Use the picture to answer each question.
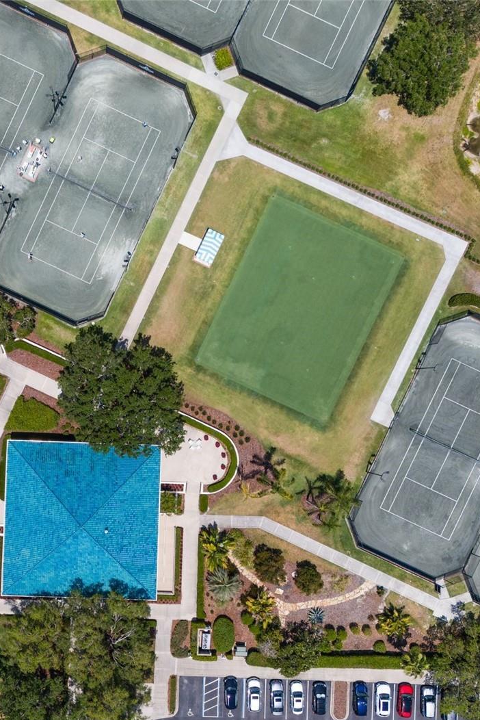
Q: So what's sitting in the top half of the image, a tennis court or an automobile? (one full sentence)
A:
It is a tennis court that can be seen in the top half of the image.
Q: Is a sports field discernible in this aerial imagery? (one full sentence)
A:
Yes, the frame does contain a sports field.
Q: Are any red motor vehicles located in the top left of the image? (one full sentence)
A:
No, I see no red motor vehicle in the top left of the image.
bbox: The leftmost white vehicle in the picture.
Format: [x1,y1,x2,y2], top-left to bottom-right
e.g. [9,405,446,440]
[246,677,263,714]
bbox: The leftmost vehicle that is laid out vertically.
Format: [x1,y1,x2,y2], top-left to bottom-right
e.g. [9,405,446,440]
[222,675,239,711]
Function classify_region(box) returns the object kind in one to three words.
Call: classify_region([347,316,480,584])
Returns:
tennis court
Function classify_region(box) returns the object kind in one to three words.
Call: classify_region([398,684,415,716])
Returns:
car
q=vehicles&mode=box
[222,675,239,711]
[375,681,393,718]
[353,680,370,717]
[420,683,439,719]
[398,684,415,716]
[443,696,461,720]
[269,679,285,715]
[246,677,263,714]
[290,679,306,715]
[311,680,329,717]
